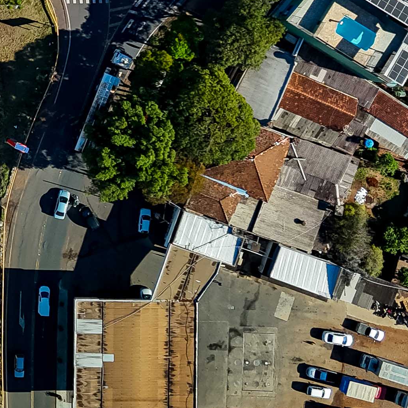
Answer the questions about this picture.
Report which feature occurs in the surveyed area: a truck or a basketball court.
truck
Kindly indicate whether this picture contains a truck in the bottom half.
Yes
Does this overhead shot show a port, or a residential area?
residential area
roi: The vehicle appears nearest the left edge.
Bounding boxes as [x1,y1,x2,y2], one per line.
[13,354,27,378]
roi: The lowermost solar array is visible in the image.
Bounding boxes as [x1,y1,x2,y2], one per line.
[388,50,408,83]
